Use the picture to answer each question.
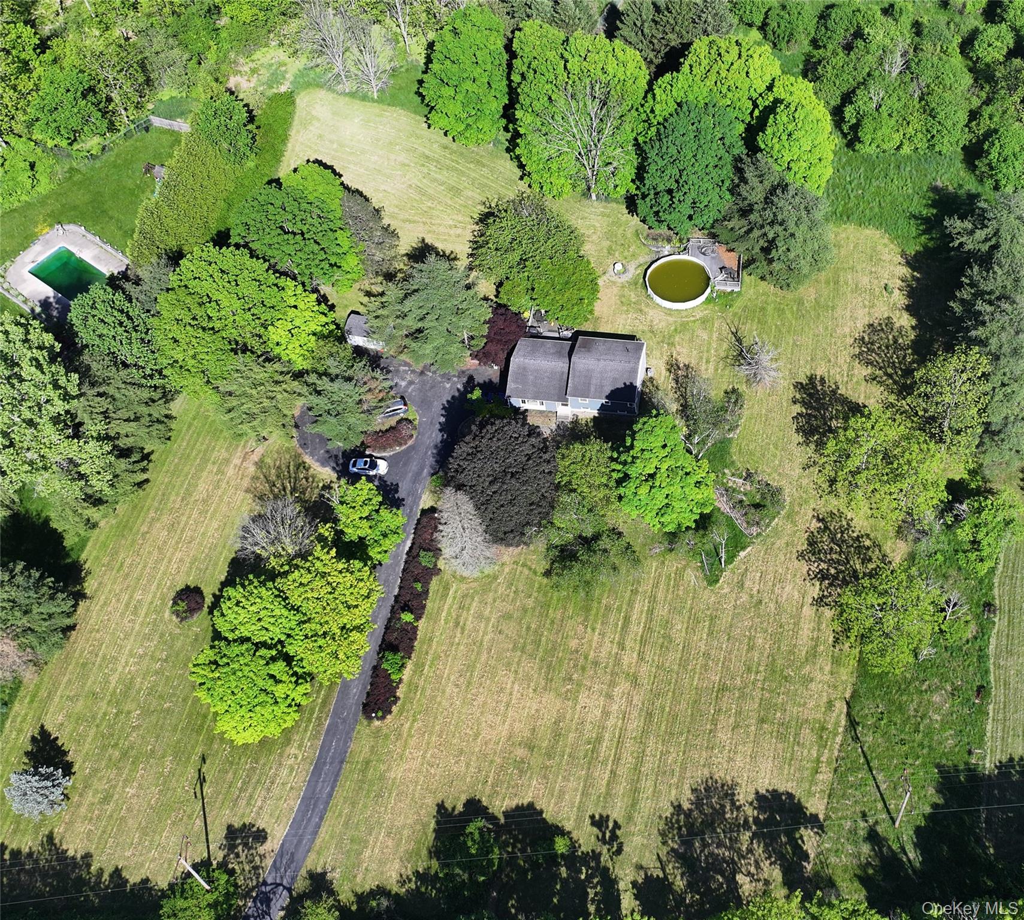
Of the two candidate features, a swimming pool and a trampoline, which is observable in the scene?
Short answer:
swimming pool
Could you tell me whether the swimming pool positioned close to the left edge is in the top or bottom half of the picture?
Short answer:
top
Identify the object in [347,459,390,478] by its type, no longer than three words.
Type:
car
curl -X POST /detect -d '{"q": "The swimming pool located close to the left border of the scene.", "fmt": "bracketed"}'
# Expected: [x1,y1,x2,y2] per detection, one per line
[23,242,109,304]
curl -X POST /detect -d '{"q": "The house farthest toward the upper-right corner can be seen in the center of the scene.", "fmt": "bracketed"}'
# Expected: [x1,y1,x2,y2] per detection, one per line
[505,336,647,429]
